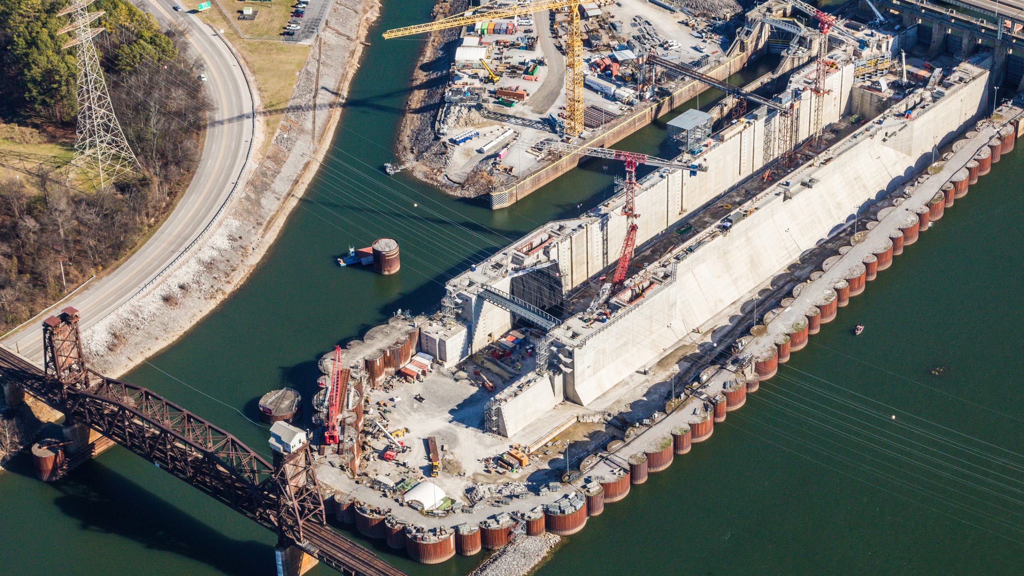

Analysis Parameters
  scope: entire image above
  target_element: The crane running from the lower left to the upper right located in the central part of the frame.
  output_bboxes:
[581,224,633,302]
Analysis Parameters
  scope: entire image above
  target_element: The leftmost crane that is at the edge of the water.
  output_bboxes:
[320,344,344,444]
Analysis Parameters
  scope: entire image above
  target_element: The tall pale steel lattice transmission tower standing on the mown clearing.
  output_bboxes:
[52,0,142,194]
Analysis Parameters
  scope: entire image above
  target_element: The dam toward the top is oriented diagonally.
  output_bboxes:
[864,0,1024,110]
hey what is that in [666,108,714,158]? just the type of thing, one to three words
building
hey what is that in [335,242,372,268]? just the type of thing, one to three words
boat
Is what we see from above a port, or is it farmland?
port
